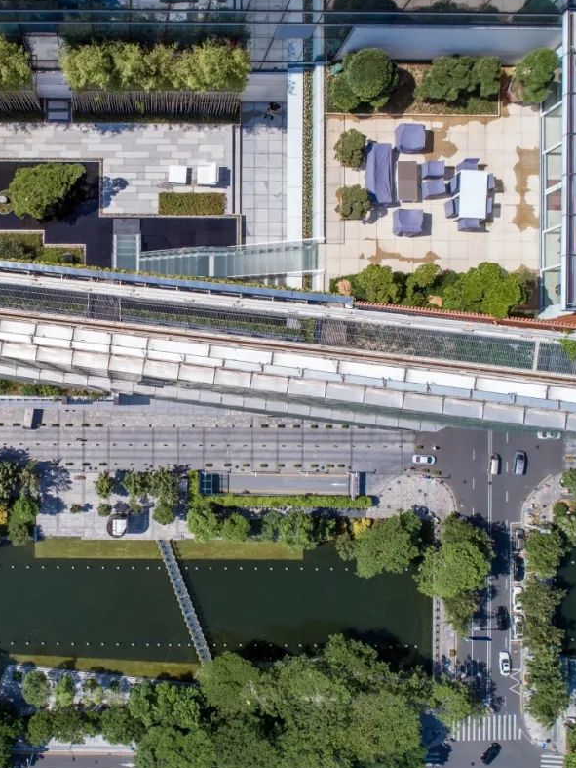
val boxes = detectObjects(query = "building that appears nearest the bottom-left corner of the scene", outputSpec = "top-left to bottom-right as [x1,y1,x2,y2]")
[106,511,129,538]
